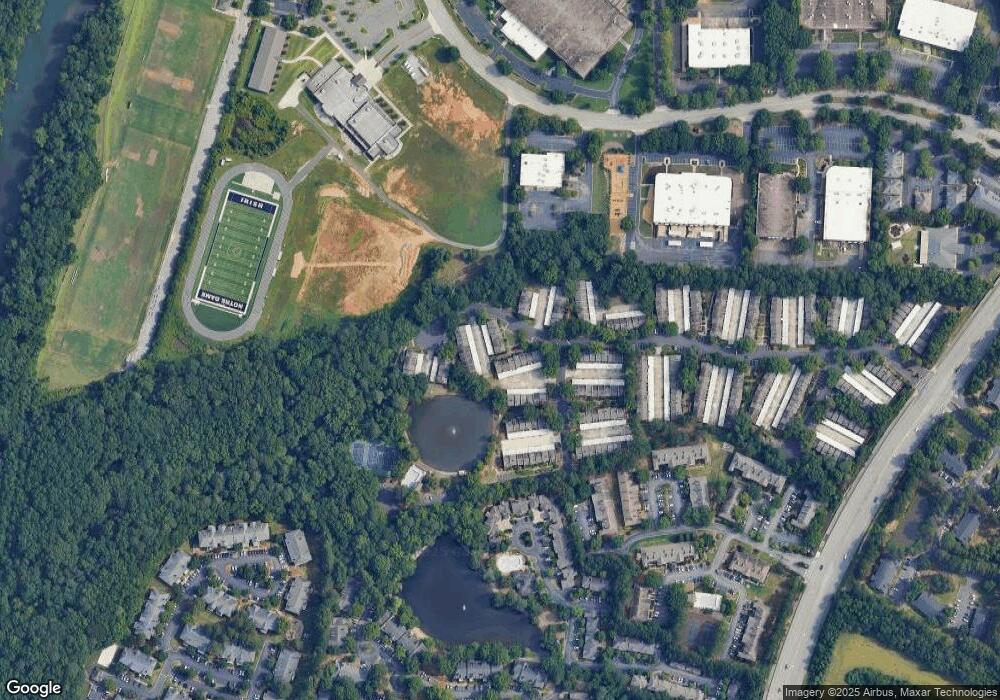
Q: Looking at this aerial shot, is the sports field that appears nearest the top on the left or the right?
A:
left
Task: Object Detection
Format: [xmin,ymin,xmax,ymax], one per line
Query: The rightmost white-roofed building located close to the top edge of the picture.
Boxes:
[899,0,979,51]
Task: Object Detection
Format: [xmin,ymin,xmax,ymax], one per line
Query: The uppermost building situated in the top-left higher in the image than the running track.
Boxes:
[247,25,286,93]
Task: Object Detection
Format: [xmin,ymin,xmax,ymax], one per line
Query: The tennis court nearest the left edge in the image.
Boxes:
[353,440,401,471]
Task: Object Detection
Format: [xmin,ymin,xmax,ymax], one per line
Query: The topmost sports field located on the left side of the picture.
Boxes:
[138,6,229,111]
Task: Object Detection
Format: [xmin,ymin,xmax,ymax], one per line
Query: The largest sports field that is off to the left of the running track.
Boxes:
[82,131,188,268]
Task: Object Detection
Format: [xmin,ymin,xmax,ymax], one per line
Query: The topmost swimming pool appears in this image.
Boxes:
[497,553,527,575]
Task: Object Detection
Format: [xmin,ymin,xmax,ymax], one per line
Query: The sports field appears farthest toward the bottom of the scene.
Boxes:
[54,262,155,350]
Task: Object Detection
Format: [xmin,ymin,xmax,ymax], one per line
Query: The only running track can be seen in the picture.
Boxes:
[184,163,290,341]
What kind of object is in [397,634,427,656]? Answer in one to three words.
building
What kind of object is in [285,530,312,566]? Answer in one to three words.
building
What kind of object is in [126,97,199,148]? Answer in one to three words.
sports field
